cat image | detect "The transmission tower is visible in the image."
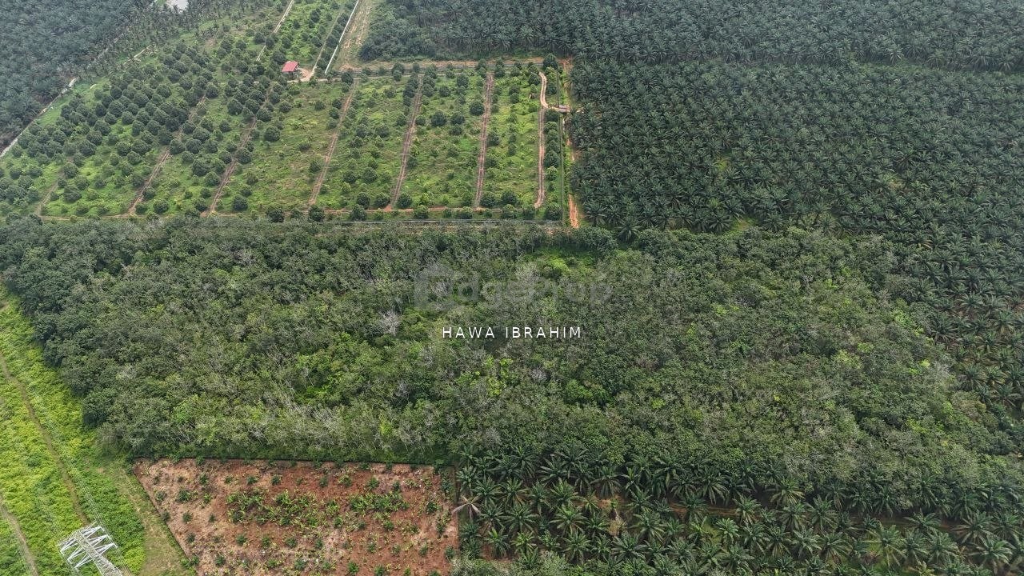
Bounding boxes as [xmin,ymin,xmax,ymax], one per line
[52,518,145,576]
